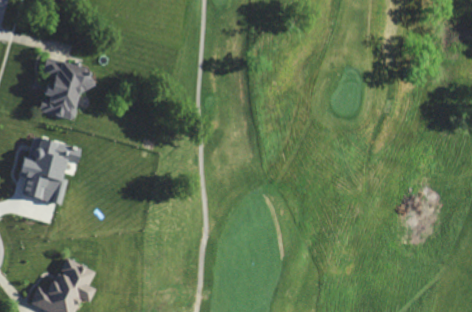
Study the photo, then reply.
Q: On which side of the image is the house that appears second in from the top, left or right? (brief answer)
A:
left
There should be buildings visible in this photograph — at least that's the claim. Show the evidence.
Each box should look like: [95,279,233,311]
[34,254,98,312]
[22,138,82,204]
[38,59,98,120]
